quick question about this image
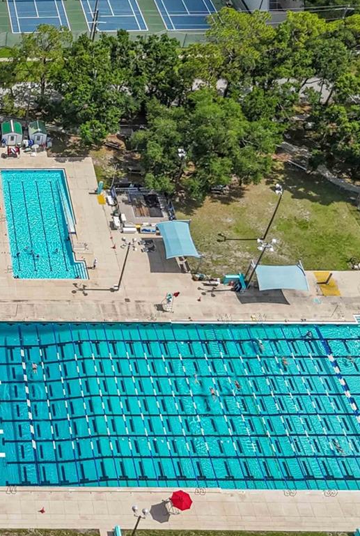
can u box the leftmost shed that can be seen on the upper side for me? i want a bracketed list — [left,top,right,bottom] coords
[1,114,24,145]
